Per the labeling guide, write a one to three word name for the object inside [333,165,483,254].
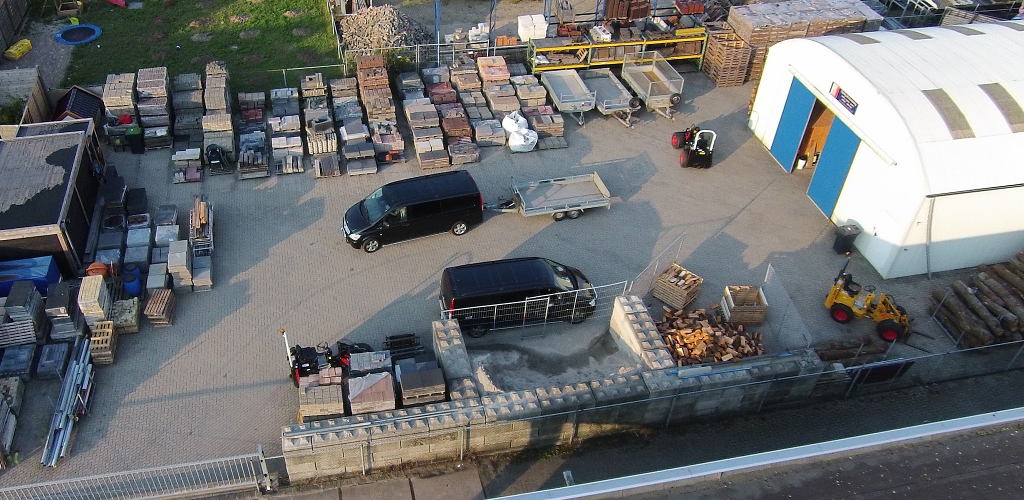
van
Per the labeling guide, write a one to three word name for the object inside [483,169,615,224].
trailer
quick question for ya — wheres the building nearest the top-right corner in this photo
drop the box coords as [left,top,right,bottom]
[743,26,1024,280]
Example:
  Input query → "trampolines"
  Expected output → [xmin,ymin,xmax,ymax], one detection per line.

[55,25,101,48]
